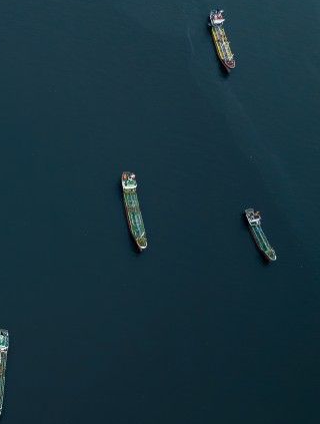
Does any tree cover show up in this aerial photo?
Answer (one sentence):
No, tree cover can't be seen anywhere here.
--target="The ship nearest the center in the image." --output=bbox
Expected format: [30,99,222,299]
[122,171,147,253]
